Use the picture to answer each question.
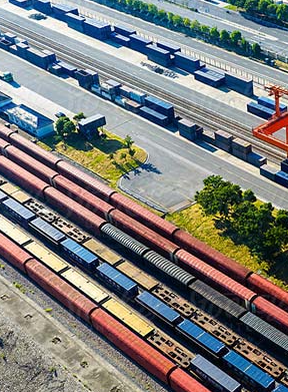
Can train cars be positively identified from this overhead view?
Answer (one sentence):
Yes, I can see a train car in this picture.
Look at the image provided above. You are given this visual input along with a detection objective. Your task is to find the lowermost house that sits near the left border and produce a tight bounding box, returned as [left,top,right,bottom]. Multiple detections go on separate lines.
[6,105,61,142]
